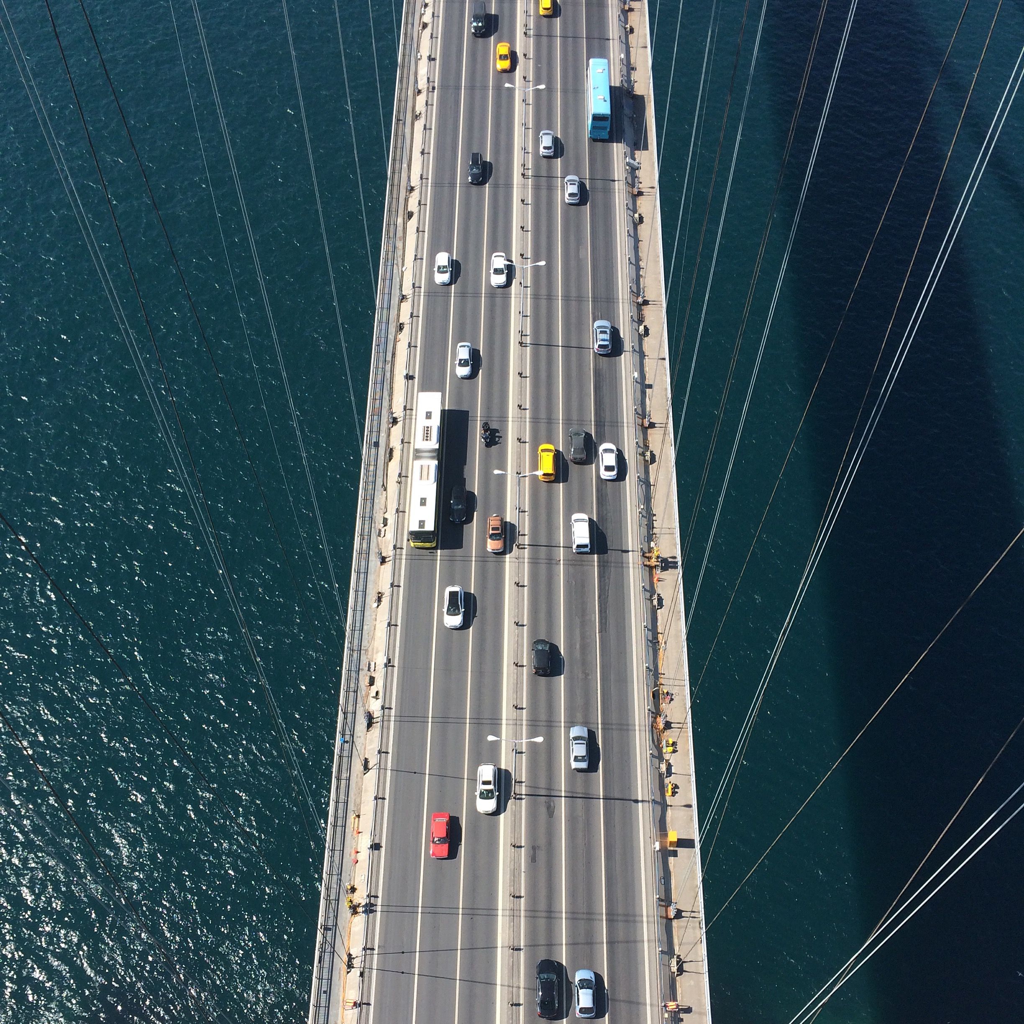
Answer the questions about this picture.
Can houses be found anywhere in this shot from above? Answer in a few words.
No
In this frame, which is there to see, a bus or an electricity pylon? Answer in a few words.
bus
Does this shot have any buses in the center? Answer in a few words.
Yes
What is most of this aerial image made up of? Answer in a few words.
water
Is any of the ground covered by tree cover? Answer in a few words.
No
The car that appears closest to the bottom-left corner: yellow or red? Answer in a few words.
red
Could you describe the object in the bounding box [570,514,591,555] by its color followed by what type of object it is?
white vehicle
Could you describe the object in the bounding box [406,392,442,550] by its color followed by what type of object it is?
white bus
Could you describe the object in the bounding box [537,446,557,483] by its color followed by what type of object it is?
yellow car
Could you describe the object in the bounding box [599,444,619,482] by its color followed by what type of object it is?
white car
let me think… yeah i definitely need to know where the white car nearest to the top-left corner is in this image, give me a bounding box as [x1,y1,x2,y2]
[433,255,451,287]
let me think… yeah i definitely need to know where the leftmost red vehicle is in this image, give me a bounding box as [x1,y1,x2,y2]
[428,813,451,860]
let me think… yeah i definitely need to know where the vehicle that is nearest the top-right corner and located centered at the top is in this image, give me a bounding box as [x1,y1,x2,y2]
[587,58,611,140]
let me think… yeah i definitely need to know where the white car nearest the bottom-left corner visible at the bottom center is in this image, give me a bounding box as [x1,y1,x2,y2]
[474,762,498,815]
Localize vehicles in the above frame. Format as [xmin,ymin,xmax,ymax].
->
[599,444,619,482]
[469,4,486,37]
[406,392,442,550]
[454,343,473,380]
[539,0,553,17]
[485,511,506,554]
[496,45,511,73]
[539,132,556,158]
[587,58,611,140]
[428,813,451,860]
[564,176,581,205]
[573,968,598,1020]
[442,585,465,630]
[531,637,552,677]
[474,762,498,815]
[467,154,484,185]
[489,255,508,289]
[433,255,451,287]
[570,514,591,555]
[537,446,557,483]
[568,428,588,465]
[569,726,591,774]
[534,960,560,1020]
[593,321,613,356]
